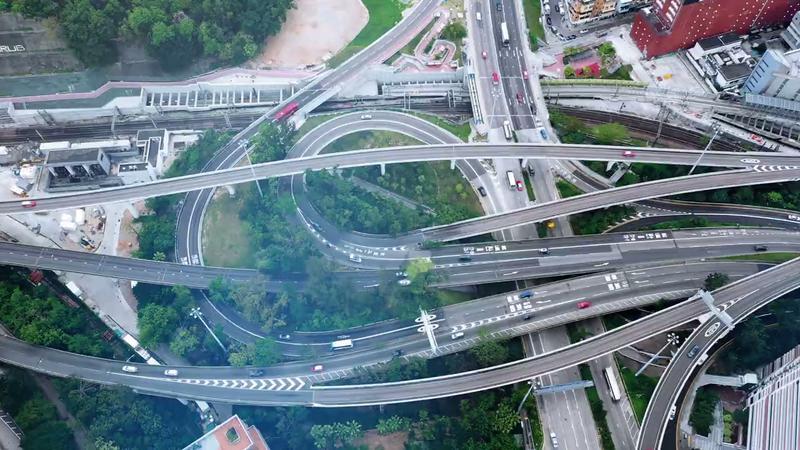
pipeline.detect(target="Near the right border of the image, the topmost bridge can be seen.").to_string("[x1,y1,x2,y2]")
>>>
[545,84,800,130]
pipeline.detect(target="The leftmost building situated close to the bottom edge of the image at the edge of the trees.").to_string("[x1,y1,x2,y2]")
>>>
[183,416,256,450]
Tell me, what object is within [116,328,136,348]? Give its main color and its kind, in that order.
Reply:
white vehicle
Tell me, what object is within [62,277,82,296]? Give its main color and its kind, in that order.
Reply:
white vehicle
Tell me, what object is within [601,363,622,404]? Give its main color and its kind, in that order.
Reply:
white bus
